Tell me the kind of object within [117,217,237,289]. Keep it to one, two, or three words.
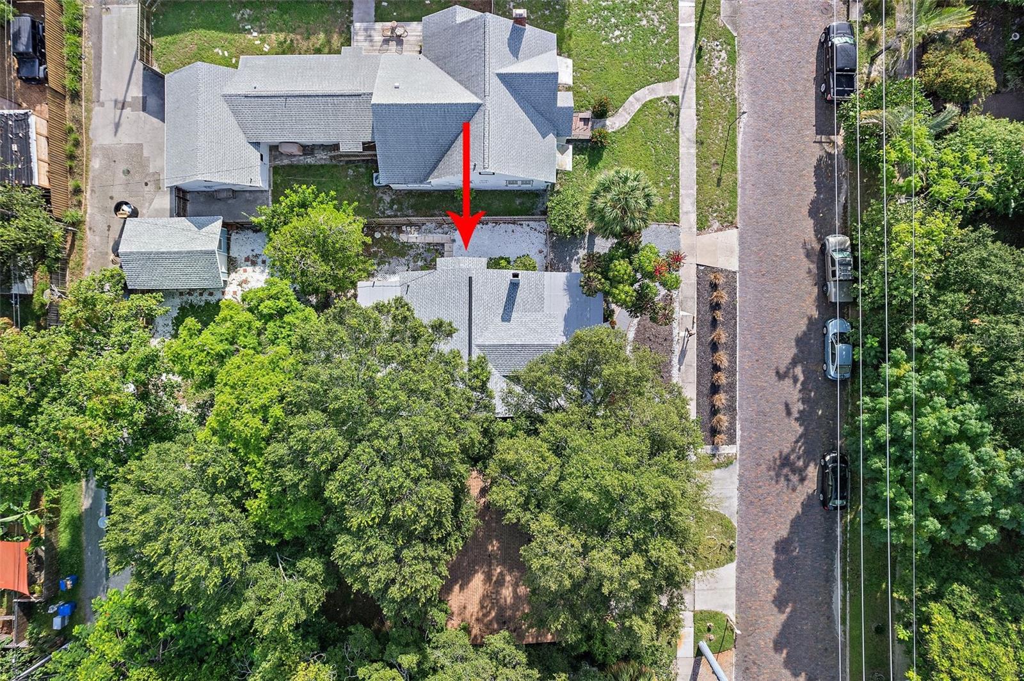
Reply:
shed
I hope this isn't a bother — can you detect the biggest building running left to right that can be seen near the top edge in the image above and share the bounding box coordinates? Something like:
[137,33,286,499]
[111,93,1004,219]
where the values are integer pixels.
[165,5,591,193]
